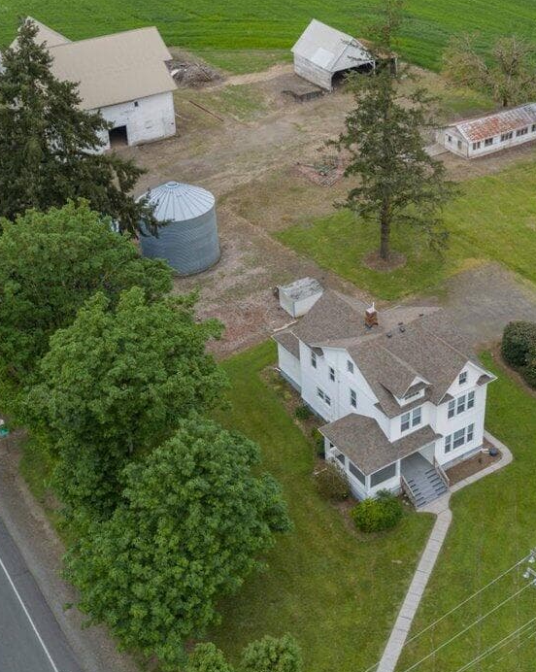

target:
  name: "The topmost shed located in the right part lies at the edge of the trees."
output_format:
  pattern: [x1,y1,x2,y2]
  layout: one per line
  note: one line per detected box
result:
[291,22,402,90]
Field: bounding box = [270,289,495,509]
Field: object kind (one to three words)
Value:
house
